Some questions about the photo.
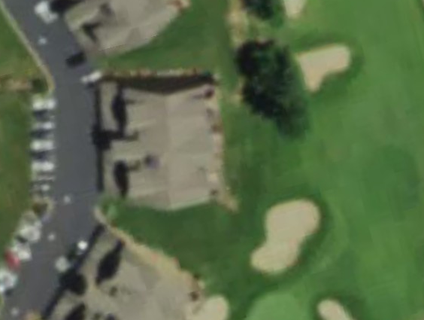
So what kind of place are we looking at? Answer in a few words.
golf course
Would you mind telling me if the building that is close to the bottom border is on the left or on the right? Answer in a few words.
left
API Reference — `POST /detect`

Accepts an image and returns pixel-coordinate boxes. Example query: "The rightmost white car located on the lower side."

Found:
[78,238,90,255]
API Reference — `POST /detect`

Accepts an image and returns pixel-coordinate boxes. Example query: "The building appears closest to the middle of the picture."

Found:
[95,64,222,196]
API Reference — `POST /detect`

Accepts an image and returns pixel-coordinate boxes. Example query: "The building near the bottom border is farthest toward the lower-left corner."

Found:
[51,228,206,320]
